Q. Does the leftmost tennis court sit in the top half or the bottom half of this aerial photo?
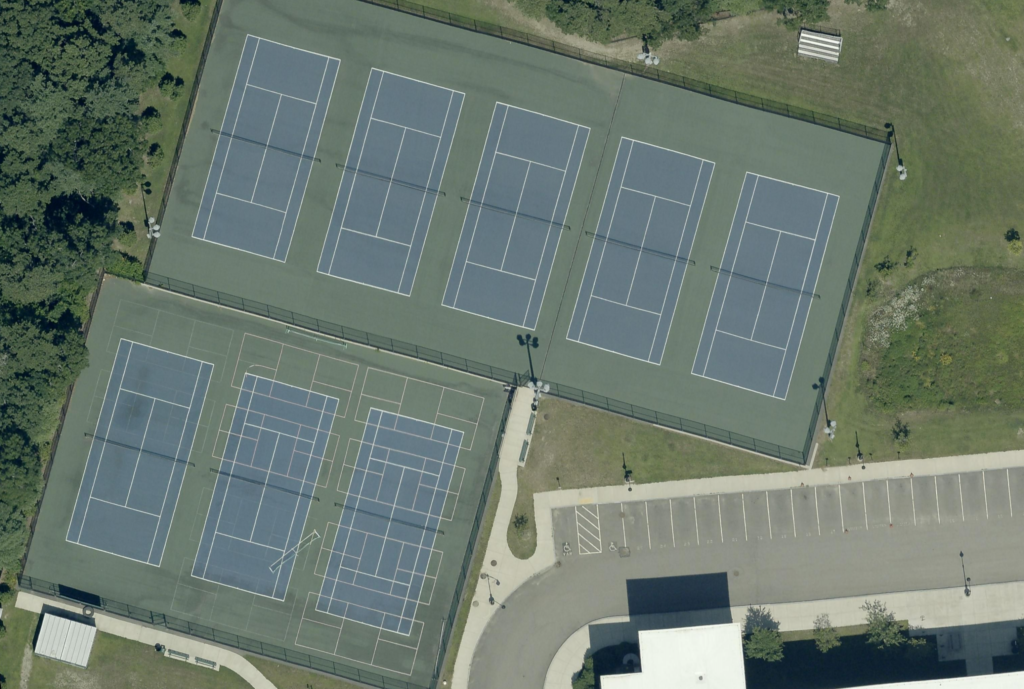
bottom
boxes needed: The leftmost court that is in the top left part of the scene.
[192,34,341,262]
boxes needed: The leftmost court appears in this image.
[66,338,215,566]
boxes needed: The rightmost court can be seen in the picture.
[691,171,840,400]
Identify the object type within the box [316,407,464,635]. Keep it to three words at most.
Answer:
tennis court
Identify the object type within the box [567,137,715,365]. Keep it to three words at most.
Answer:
tennis court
